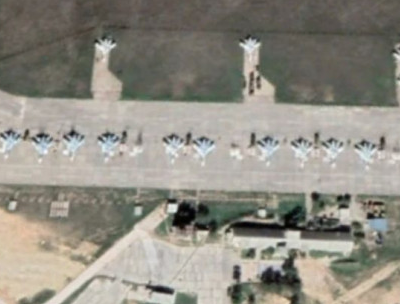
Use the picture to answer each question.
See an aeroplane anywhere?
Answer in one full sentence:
Yes, the photo shows an aeroplane.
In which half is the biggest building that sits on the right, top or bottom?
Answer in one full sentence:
Seen from above, the biggest building that sits on the right lies in the bottom half of the view.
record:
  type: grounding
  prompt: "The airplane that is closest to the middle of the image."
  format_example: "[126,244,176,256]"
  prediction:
[194,138,215,164]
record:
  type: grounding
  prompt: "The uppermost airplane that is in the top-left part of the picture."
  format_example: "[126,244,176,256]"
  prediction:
[96,34,117,59]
